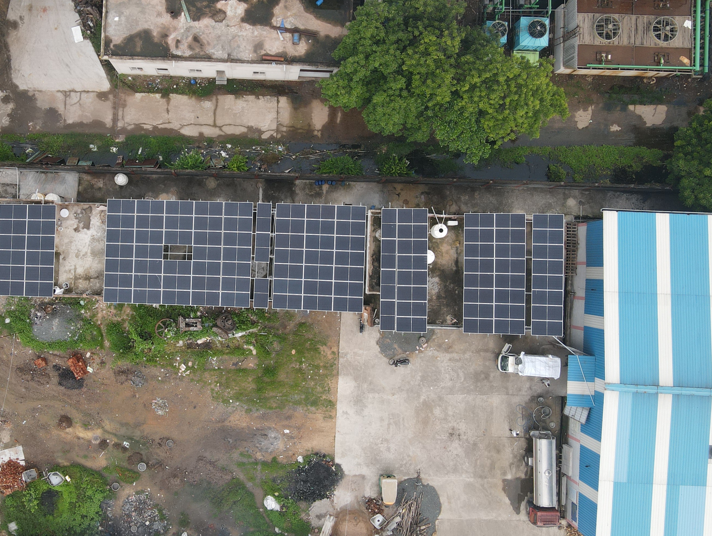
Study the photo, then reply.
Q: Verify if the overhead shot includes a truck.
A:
Yes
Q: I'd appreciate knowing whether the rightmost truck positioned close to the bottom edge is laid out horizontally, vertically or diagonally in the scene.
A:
vertically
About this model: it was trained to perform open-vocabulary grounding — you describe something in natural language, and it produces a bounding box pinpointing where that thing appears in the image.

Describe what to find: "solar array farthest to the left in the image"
[0,201,63,301]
